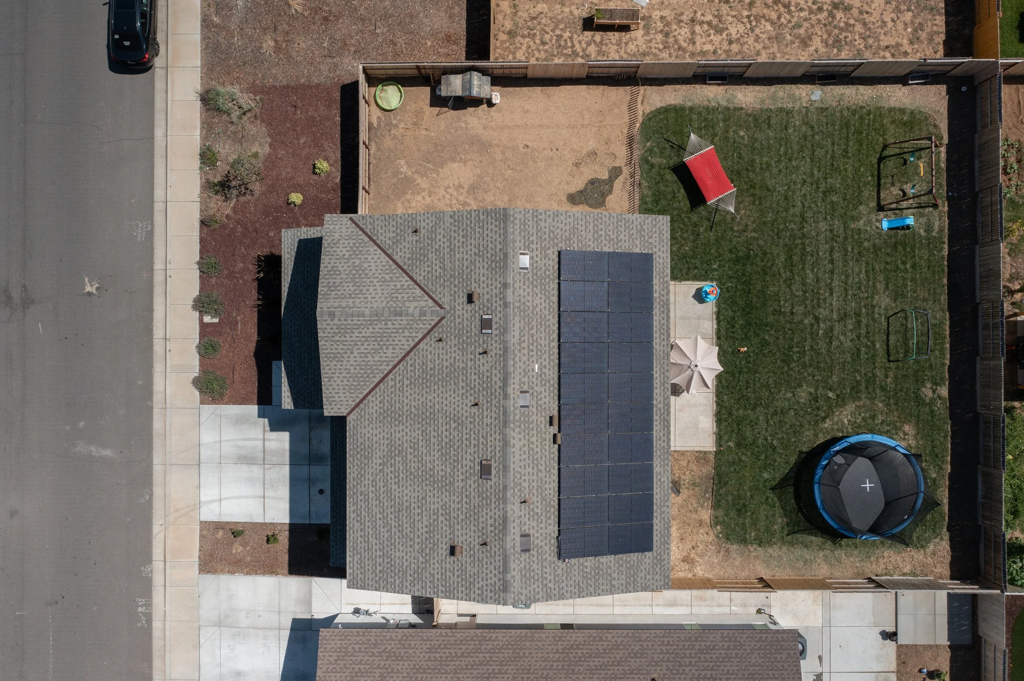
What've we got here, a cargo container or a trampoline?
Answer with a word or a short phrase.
trampoline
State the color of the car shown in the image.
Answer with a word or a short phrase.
black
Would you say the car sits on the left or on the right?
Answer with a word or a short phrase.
left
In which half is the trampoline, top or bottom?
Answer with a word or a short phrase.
bottom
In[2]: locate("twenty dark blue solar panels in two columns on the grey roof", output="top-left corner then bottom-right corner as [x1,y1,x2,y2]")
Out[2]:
[556,248,655,565]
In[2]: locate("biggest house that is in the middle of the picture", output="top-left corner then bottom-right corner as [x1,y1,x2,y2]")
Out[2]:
[282,206,671,606]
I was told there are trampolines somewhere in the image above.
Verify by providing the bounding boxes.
[807,431,942,551]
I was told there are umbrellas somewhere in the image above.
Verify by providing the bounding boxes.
[671,335,723,394]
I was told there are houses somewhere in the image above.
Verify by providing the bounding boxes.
[316,613,804,681]
[282,206,671,606]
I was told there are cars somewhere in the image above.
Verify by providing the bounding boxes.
[109,0,164,70]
